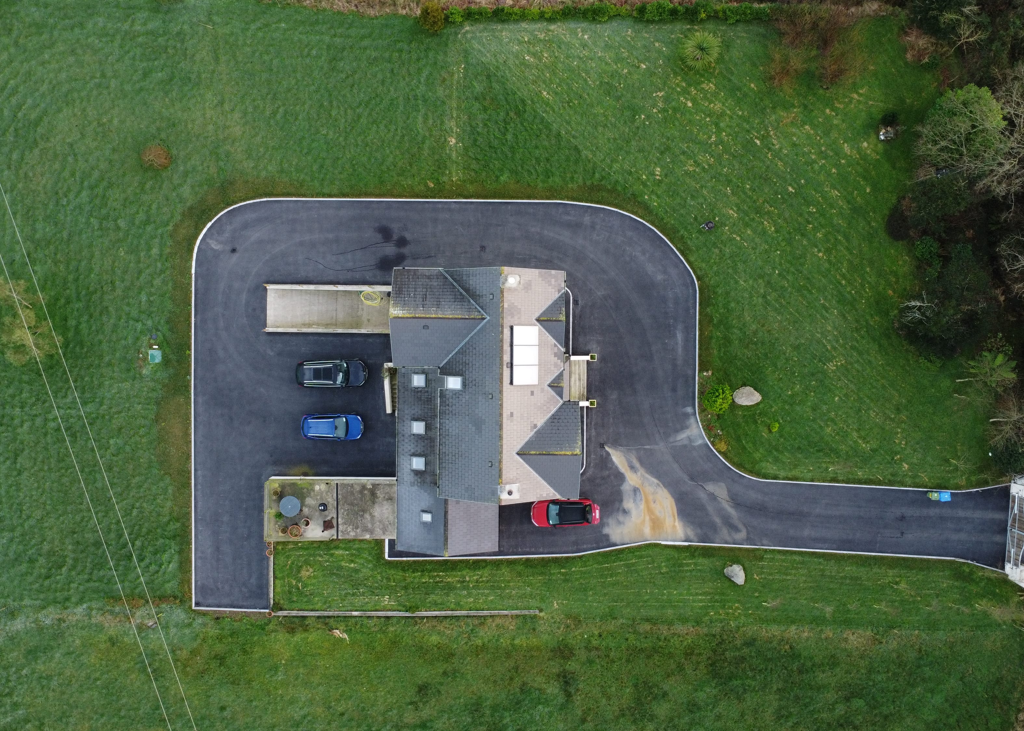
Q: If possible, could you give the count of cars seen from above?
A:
3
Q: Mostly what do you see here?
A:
grass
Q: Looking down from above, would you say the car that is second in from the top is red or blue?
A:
blue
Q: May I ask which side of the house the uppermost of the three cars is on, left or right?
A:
on its left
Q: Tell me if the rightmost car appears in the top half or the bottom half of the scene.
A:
bottom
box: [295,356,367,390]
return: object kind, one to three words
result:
car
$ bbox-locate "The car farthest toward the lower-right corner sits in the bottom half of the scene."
[531,499,601,533]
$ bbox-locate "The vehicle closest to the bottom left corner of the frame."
[299,411,363,444]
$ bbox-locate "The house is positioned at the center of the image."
[388,266,583,558]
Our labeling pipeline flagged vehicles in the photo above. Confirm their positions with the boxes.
[295,356,367,390]
[531,499,601,533]
[299,411,363,444]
